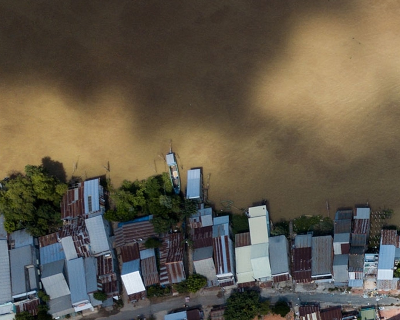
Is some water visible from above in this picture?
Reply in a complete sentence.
Yes, some water is visible.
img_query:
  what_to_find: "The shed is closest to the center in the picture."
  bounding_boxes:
[186,169,206,199]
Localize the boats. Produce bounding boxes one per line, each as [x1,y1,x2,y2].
[166,141,182,192]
